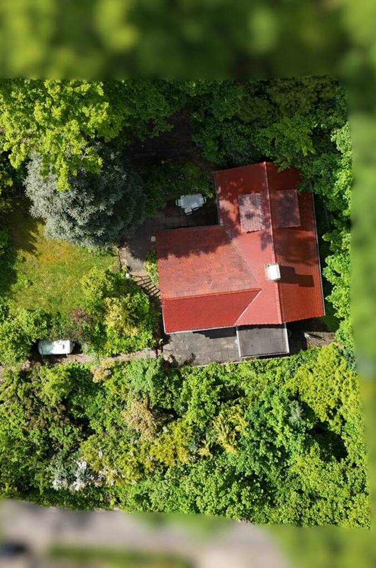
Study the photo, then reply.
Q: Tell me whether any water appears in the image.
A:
No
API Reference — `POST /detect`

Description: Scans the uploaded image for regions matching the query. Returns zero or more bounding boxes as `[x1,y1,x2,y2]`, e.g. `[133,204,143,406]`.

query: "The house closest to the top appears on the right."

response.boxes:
[154,161,326,334]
